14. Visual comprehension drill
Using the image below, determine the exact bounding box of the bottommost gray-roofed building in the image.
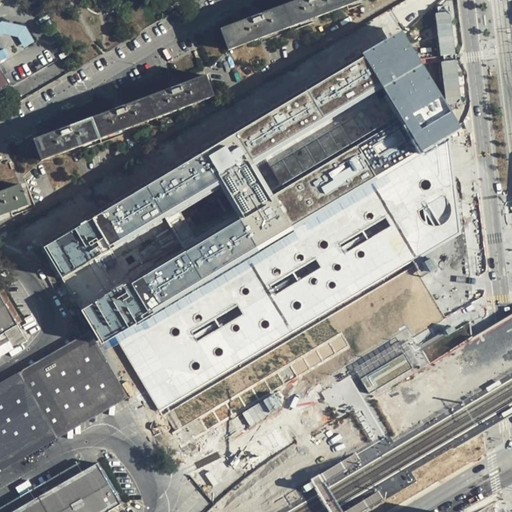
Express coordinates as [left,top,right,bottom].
[0,462,118,512]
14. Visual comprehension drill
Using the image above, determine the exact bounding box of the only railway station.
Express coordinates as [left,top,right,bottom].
[266,367,512,512]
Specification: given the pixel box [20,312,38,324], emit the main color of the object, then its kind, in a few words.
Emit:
white vehicle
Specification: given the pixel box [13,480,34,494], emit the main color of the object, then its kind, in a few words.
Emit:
white vehicle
